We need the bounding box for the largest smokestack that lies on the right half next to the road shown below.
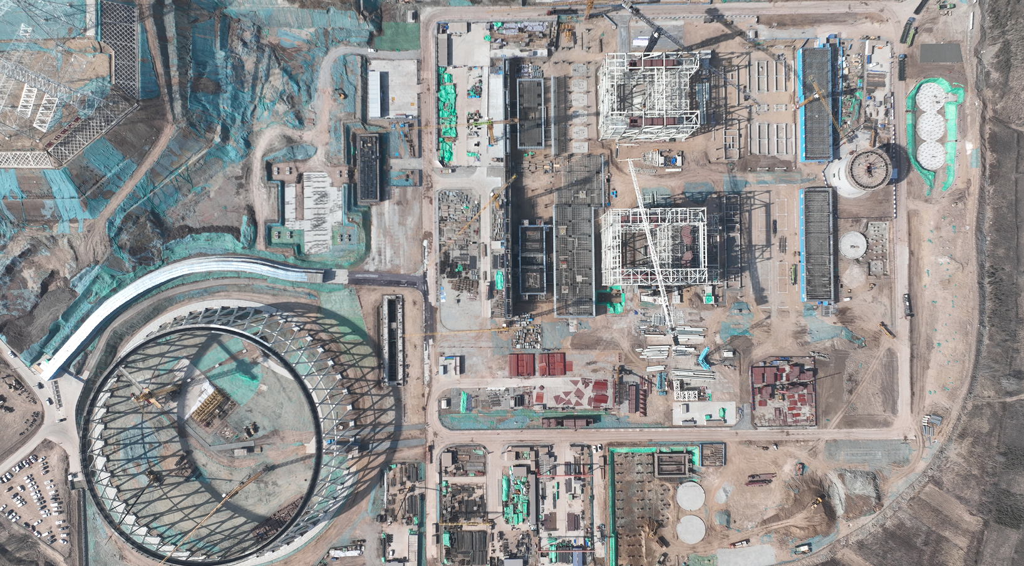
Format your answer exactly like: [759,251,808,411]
[830,146,893,197]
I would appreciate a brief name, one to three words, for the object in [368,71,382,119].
building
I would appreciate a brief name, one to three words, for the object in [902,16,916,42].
vehicle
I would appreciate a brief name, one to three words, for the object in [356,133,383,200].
building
